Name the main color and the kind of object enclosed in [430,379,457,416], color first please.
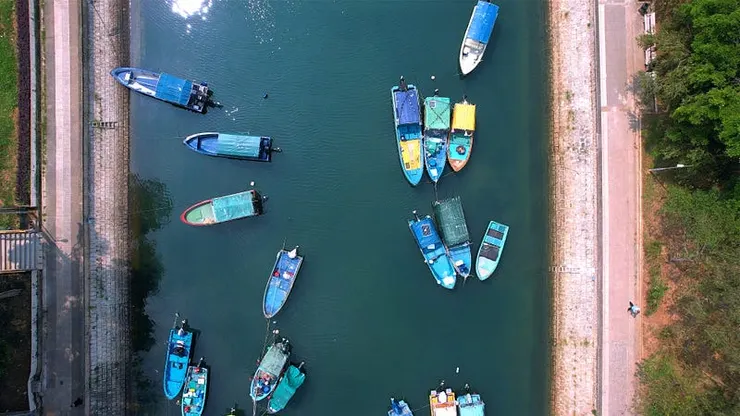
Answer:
white boat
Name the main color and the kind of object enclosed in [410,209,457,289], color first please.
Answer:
blue boat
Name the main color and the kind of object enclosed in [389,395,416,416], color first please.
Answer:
blue boat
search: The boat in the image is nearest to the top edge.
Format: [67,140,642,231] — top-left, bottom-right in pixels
[460,0,501,77]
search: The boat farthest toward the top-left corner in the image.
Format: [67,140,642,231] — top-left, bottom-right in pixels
[111,71,223,110]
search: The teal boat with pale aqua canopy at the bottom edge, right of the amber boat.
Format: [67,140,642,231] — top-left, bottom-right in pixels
[457,386,484,416]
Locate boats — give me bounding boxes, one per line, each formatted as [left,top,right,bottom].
[424,89,450,182]
[165,313,192,399]
[270,360,307,413]
[460,0,501,77]
[410,209,457,289]
[185,358,209,416]
[477,221,509,281]
[248,338,293,402]
[264,249,302,317]
[433,194,472,278]
[430,379,457,416]
[447,97,475,172]
[392,78,424,186]
[184,134,284,160]
[181,190,267,224]
[457,386,484,416]
[111,71,223,110]
[389,395,416,416]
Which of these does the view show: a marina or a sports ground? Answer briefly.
marina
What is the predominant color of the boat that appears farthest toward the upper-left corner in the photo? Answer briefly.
blue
